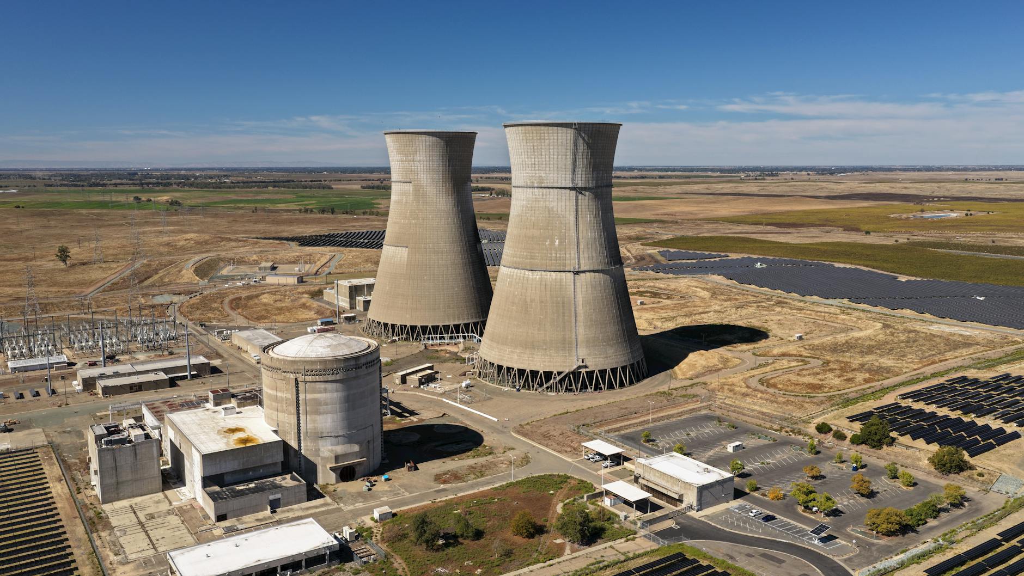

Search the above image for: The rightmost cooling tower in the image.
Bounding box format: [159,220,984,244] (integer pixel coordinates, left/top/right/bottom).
[474,119,651,396]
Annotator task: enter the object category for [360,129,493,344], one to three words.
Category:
cooling tower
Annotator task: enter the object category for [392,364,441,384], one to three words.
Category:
building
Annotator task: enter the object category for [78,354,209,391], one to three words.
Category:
building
